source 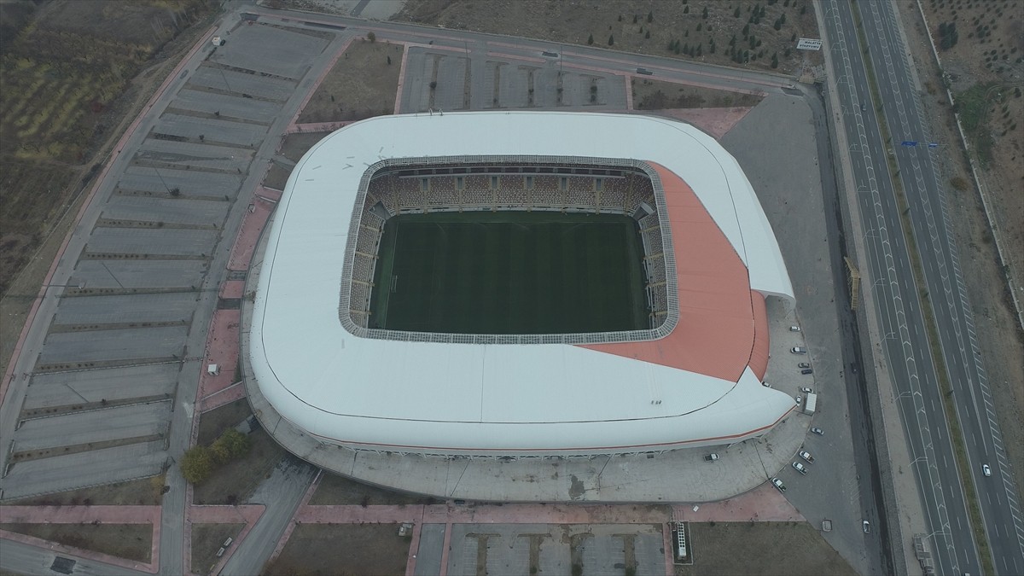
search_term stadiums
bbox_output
[237,110,815,505]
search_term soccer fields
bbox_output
[367,210,654,342]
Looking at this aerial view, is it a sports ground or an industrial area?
sports ground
